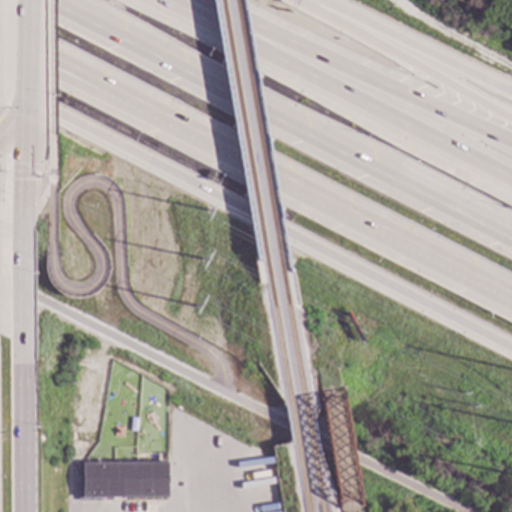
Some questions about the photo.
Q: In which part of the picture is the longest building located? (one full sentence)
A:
Look in the bottom left portion of the view to spot the longest building.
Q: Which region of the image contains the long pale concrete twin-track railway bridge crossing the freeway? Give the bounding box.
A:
[216,0,294,270]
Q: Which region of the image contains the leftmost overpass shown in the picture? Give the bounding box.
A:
[0,0,59,512]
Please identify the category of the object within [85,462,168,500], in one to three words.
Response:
building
